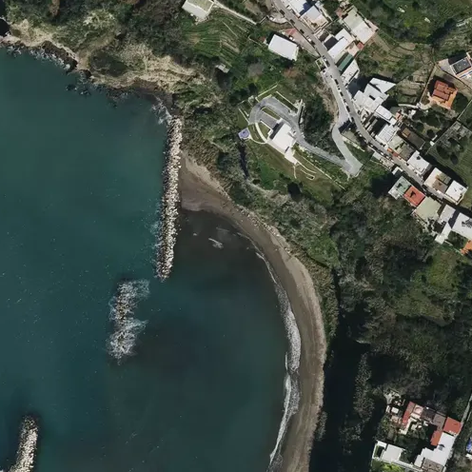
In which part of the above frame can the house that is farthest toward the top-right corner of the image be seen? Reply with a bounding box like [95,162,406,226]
[439,56,472,77]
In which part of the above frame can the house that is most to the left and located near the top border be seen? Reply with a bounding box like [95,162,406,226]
[181,0,214,20]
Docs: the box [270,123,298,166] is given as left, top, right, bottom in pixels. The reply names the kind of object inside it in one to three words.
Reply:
house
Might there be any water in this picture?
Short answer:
Yes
